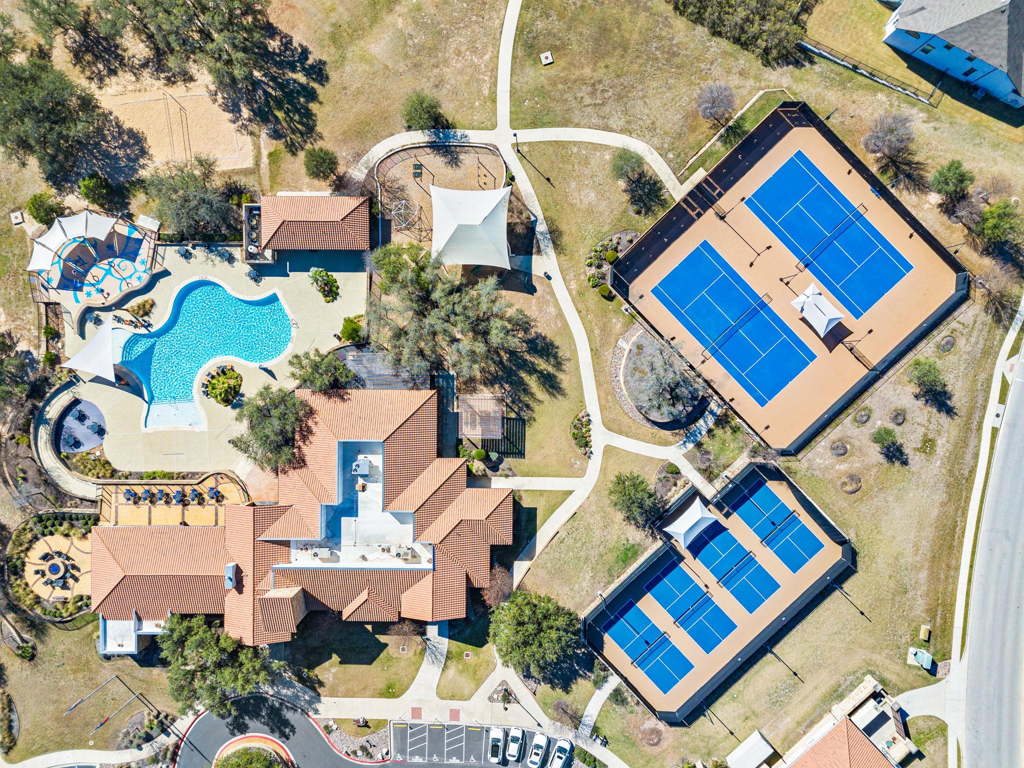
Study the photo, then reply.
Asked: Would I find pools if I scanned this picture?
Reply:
Yes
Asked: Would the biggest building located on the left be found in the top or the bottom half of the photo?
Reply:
bottom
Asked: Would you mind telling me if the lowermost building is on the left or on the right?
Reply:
right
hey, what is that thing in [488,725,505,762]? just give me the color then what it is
white car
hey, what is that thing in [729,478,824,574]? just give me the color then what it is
blue sports court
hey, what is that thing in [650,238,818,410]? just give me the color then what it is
blue tennis court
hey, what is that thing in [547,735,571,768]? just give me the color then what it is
white car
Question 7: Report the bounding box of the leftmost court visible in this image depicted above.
[98,81,253,172]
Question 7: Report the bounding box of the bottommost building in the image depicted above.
[770,711,900,768]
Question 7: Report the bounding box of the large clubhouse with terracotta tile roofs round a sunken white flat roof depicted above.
[90,389,513,654]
